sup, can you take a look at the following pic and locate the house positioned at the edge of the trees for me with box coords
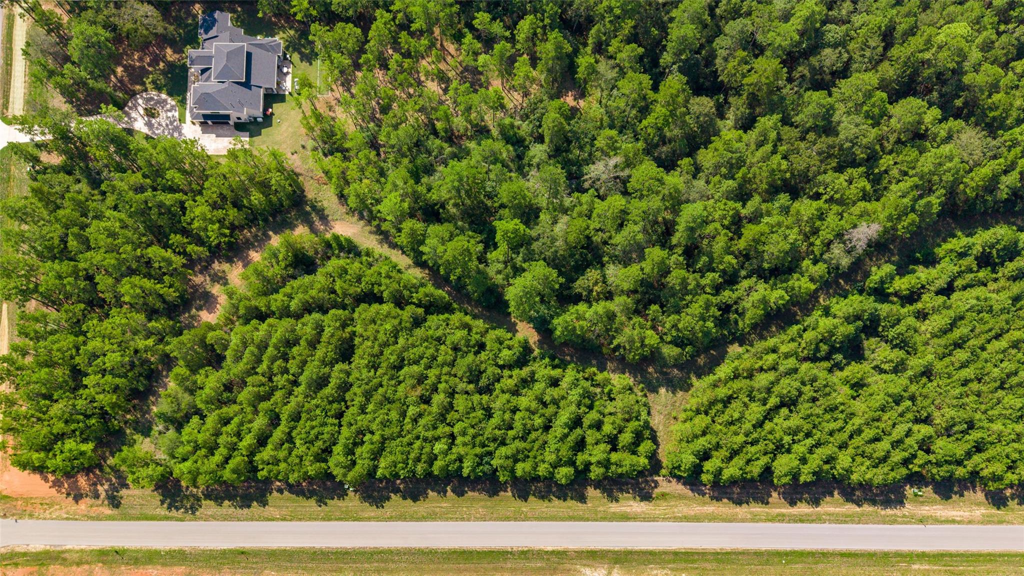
[188,11,284,125]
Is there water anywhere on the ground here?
No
